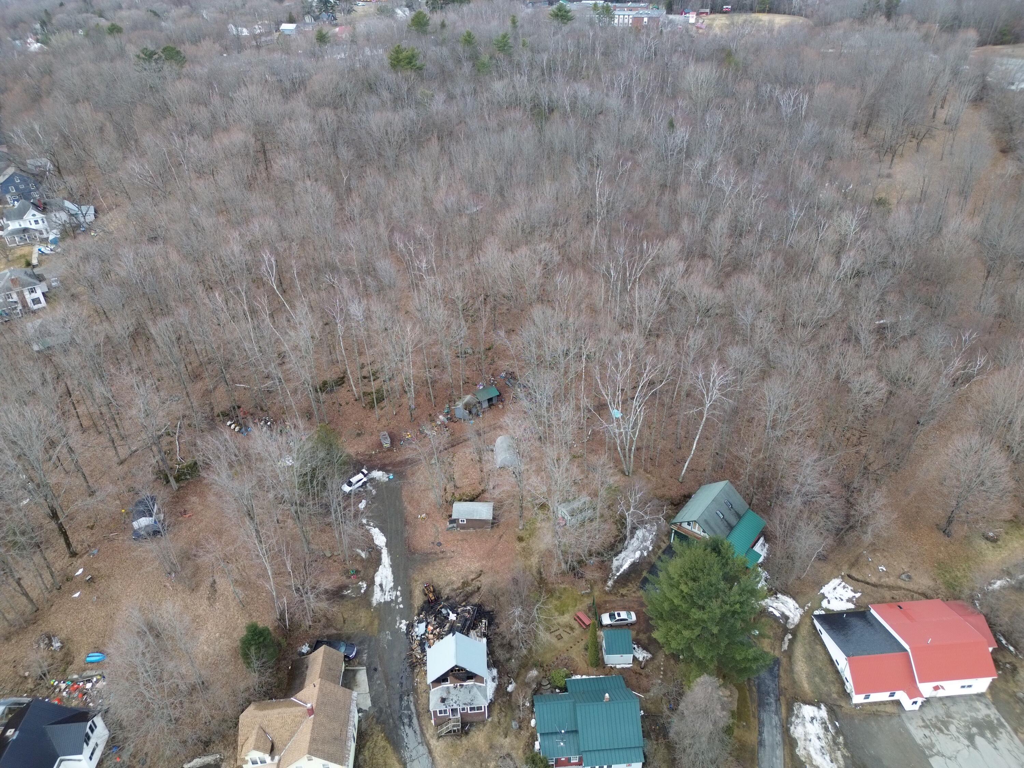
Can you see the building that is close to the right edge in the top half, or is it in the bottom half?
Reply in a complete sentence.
Seen from above, the building that is close to the right edge lies in the bottom half of the view.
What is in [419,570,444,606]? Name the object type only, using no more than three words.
work vehicle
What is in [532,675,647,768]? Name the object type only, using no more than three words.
house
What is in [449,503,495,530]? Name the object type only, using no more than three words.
shed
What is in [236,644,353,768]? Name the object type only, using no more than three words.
house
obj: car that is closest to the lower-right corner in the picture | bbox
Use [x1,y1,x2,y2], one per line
[599,608,637,624]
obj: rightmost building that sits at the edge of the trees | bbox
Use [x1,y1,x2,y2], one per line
[816,597,1000,713]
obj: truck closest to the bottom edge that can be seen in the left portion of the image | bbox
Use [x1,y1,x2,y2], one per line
[309,639,358,662]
